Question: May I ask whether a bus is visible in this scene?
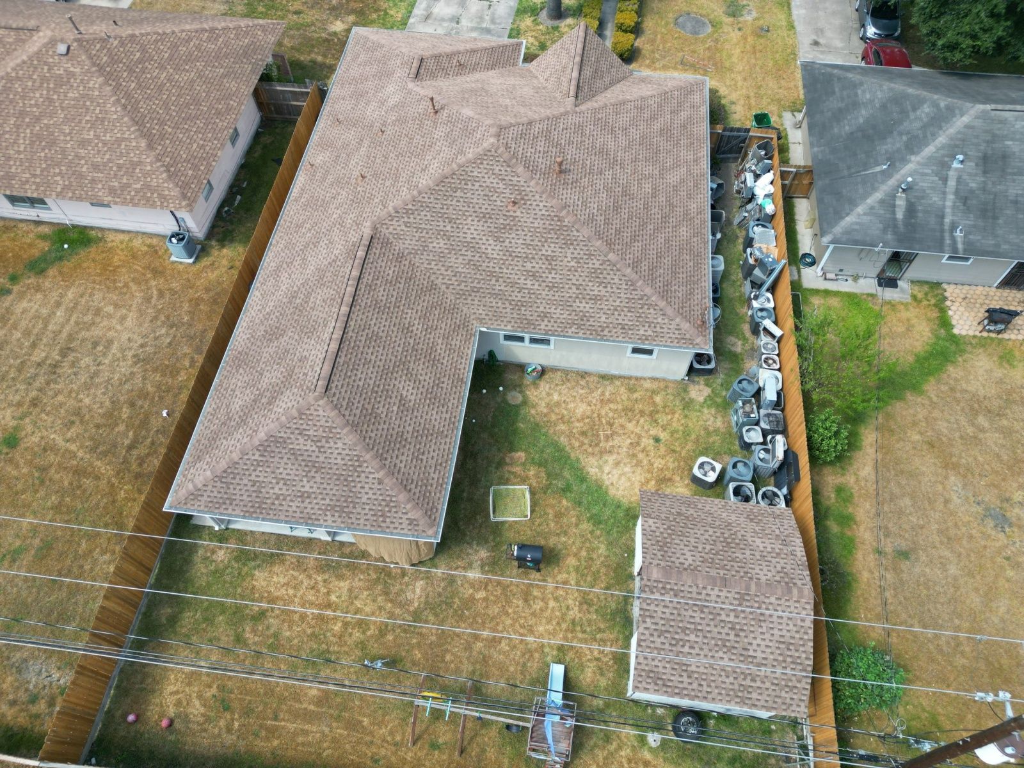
No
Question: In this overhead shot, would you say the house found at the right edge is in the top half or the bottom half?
top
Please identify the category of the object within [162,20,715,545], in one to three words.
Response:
house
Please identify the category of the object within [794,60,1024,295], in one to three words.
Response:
house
